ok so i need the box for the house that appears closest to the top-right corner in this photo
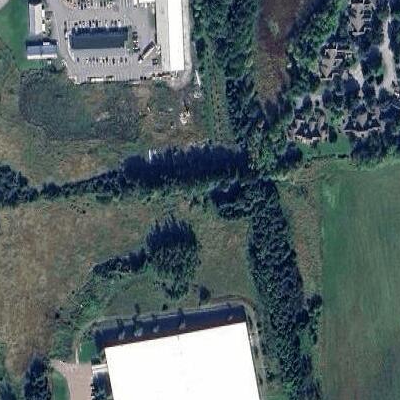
[347,0,374,32]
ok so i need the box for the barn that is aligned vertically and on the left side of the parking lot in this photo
[29,4,44,36]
